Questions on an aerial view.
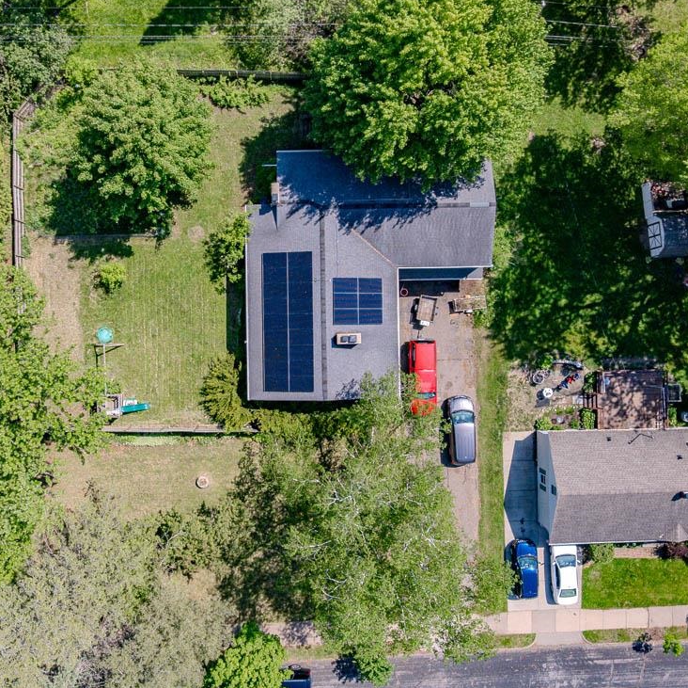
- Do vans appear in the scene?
Yes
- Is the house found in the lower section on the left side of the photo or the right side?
right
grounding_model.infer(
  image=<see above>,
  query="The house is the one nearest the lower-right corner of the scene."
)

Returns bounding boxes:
[537,425,688,546]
